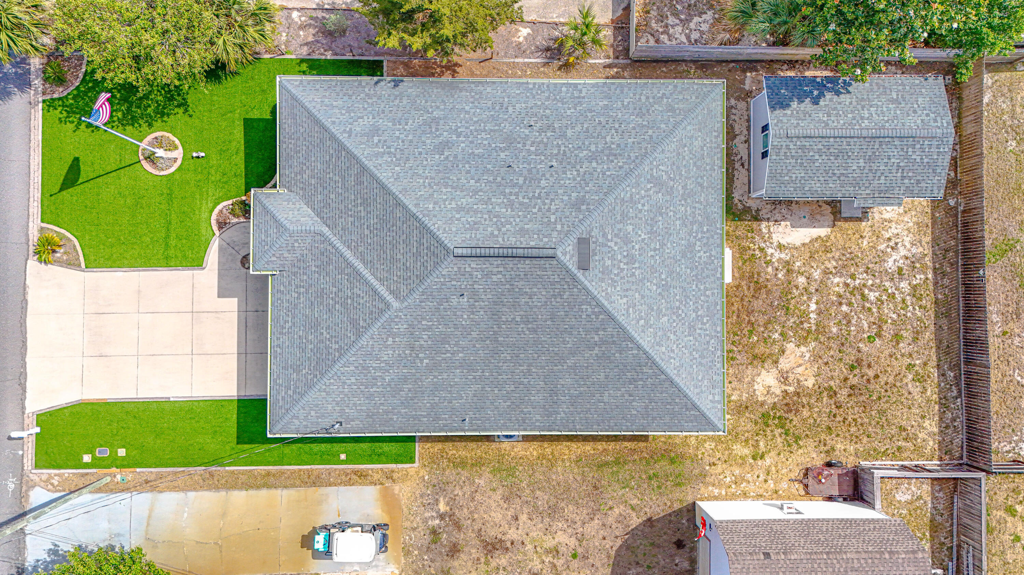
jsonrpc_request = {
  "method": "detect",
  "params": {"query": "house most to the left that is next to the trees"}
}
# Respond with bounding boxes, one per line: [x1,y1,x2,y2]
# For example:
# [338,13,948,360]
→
[251,76,726,437]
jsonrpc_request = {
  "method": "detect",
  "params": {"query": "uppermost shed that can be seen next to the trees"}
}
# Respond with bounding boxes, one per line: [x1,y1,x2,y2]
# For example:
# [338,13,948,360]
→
[747,74,955,218]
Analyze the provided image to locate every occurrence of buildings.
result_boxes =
[694,499,931,575]
[251,76,726,437]
[747,74,955,218]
